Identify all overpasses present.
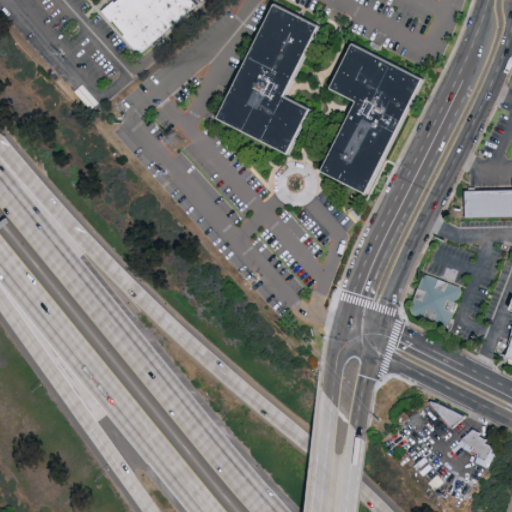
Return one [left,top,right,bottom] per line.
[304,387,366,512]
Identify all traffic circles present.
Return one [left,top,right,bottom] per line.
[272,160,319,206]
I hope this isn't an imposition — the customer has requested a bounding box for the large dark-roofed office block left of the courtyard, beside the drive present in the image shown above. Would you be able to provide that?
[216,4,320,158]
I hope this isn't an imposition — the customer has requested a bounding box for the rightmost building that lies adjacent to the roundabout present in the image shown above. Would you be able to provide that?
[320,44,422,194]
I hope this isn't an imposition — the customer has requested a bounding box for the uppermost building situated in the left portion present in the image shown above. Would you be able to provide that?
[100,0,202,56]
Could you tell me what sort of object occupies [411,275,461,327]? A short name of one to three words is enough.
building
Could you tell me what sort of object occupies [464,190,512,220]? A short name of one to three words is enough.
building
